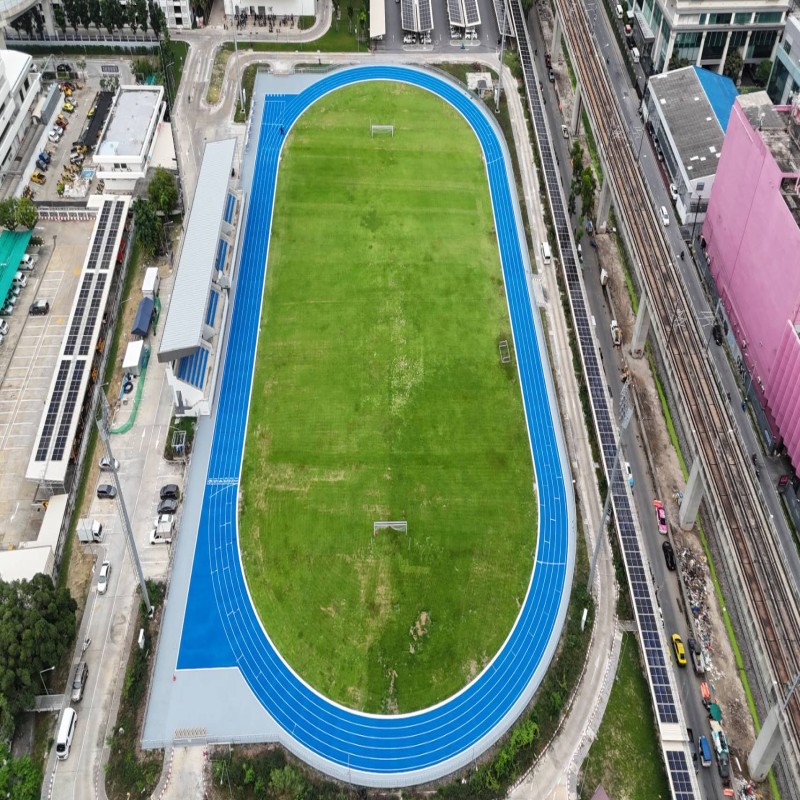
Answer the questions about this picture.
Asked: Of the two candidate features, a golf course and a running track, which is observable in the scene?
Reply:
running track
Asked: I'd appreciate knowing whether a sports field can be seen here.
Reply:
Yes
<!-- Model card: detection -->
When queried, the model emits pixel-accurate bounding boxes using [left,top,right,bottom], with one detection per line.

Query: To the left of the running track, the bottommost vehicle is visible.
[53,701,78,759]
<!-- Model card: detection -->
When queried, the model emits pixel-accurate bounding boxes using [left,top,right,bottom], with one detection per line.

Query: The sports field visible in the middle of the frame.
[239,80,538,713]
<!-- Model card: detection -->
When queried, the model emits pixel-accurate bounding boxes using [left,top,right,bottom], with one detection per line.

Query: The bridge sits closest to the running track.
[552,0,800,800]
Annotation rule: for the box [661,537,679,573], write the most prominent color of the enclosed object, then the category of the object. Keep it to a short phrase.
black car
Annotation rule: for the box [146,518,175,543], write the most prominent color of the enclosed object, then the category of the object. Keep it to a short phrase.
white truck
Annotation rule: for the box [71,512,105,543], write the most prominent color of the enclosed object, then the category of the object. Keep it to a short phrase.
white truck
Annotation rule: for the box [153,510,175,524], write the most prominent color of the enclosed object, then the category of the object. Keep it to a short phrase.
white car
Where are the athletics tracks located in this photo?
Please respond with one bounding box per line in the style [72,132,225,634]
[142,61,579,791]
